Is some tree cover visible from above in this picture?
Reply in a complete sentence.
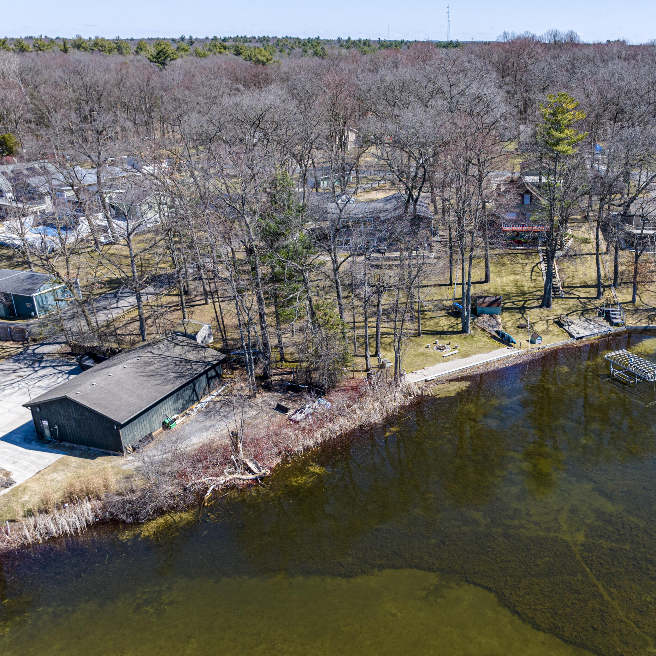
Yes, there is tree cover in the image.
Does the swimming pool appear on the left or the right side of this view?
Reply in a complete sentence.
You can find the swimming pool on the left side of the picture.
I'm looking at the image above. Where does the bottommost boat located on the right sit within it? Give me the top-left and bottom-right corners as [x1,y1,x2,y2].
[494,330,519,345]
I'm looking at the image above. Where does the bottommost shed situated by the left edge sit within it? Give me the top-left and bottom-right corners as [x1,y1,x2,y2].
[18,336,226,454]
